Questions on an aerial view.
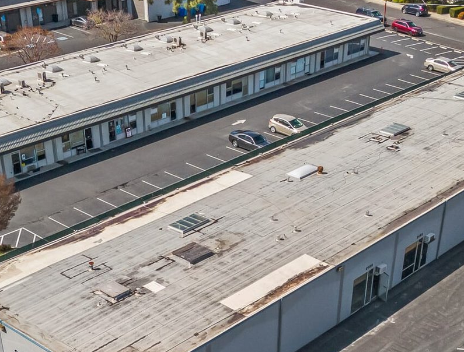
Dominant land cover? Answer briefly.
buildings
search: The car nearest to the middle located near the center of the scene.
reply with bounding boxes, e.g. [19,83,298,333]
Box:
[231,131,269,150]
